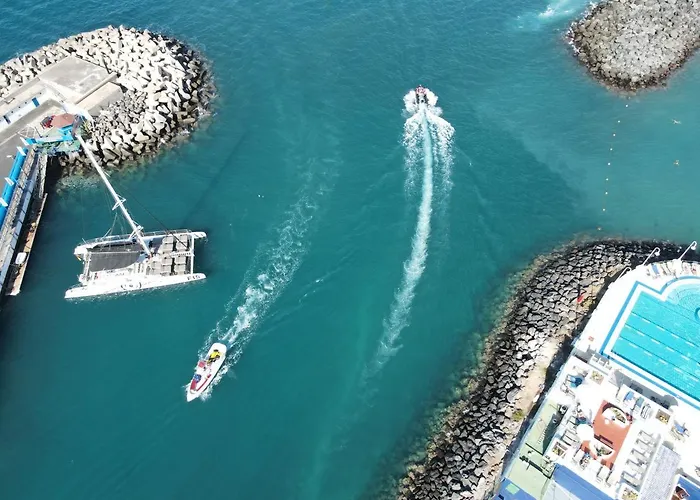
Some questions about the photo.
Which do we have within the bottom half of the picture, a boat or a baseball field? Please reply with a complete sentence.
You can see a boat within the bottom half of the picture.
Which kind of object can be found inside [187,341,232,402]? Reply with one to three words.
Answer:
boat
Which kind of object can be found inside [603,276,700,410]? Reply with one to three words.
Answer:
swimming pool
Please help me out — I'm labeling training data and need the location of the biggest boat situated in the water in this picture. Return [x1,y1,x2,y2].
[64,140,211,300]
